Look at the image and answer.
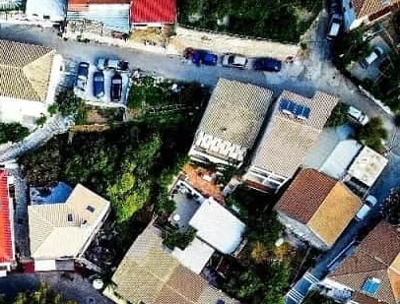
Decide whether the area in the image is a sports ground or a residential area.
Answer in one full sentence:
It's a residential area.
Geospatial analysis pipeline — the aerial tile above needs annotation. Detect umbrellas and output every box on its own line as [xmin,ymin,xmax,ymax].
[171,213,182,224]
[91,276,105,292]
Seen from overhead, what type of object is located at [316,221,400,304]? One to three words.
house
